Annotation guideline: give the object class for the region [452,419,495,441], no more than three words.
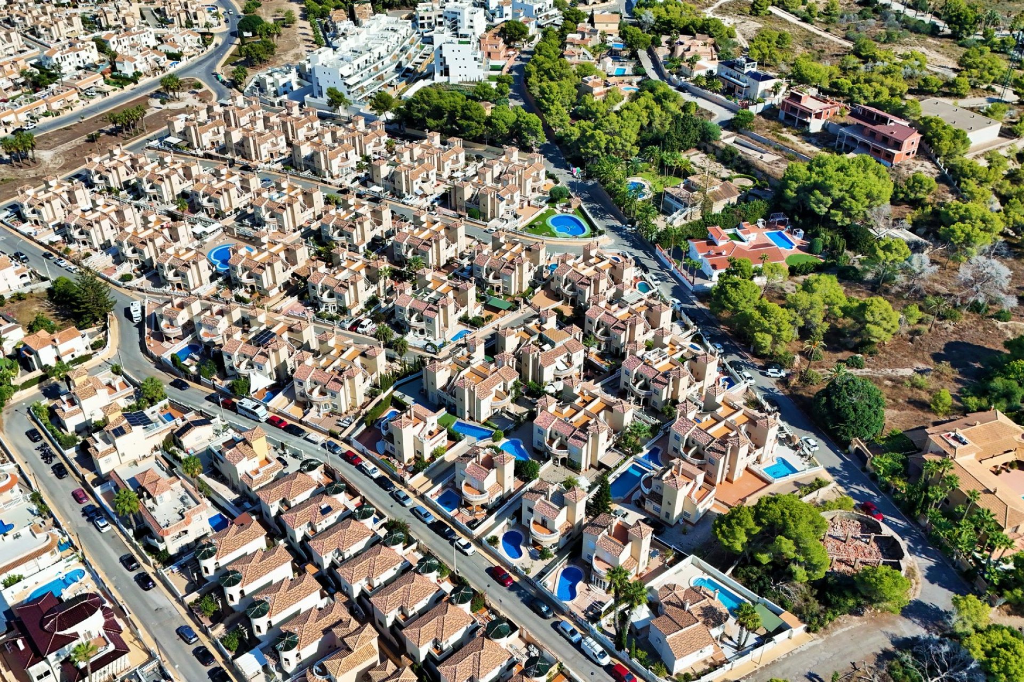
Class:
swimming pool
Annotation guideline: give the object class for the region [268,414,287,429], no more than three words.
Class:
car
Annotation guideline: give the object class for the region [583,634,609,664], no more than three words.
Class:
vehicle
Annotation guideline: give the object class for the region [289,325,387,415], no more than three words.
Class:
house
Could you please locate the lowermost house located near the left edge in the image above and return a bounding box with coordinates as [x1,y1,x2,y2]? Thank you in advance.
[5,601,137,682]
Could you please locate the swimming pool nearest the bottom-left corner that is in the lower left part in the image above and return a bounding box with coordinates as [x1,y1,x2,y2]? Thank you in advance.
[18,567,87,608]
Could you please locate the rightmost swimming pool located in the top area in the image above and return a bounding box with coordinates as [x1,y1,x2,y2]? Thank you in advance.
[766,230,796,249]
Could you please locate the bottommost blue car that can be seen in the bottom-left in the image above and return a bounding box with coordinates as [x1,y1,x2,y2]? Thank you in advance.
[174,623,199,645]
